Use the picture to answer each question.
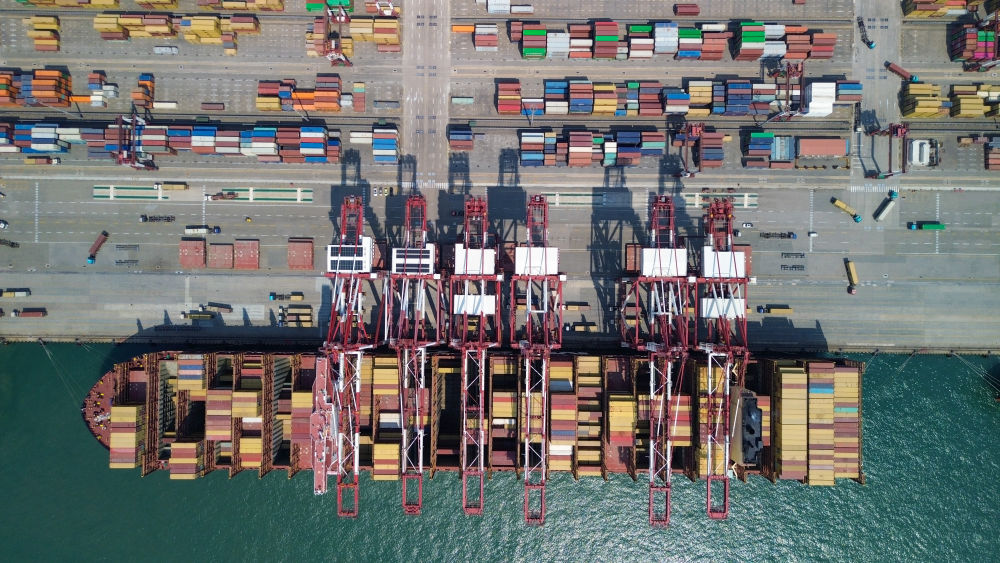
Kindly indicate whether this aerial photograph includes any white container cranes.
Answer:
Yes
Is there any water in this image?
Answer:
Yes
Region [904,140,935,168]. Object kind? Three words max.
shed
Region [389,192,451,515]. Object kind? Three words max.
container crane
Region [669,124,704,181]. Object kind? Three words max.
container crane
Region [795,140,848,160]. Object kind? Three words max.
building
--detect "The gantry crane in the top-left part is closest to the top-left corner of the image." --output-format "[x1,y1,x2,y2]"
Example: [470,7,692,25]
[117,115,163,175]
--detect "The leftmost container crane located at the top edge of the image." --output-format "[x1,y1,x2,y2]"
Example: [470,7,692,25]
[323,3,355,70]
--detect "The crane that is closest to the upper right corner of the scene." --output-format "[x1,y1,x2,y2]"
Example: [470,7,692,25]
[958,8,1000,75]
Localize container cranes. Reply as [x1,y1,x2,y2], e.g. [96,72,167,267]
[669,124,704,181]
[958,8,1000,75]
[448,193,509,516]
[764,62,805,125]
[117,115,163,175]
[859,124,906,182]
[673,196,756,518]
[389,192,451,515]
[505,194,571,526]
[323,3,355,70]
[324,191,397,515]
[613,195,697,528]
